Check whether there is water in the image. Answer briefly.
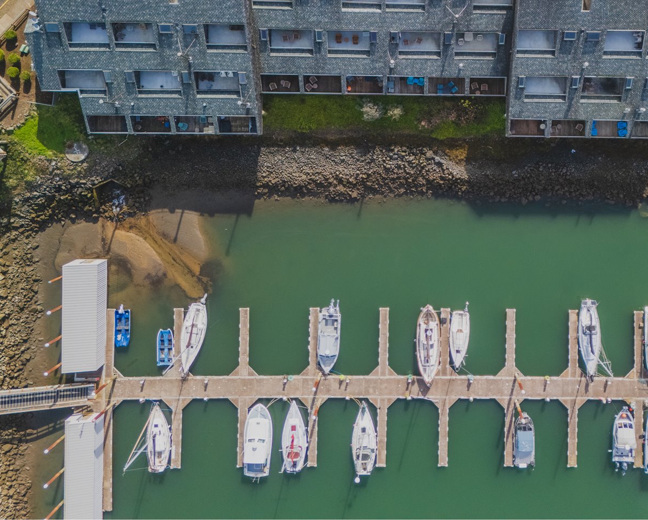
Yes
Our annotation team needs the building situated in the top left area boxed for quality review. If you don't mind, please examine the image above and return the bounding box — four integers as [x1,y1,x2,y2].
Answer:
[25,0,271,135]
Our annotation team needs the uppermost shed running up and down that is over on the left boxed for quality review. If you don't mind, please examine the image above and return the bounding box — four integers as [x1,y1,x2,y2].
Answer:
[62,262,111,373]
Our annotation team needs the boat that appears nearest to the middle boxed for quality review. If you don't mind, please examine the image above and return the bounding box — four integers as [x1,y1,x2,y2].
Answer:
[317,298,342,378]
